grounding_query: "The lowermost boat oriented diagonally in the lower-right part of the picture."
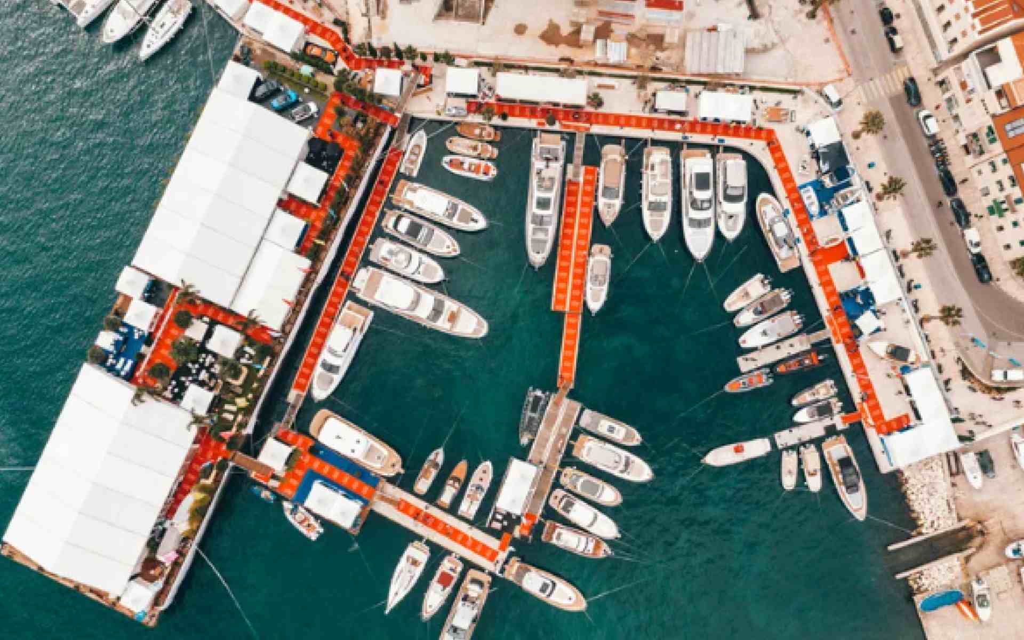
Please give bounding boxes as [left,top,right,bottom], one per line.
[955,599,976,621]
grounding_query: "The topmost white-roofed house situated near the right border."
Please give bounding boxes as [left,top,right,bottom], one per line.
[964,36,1024,94]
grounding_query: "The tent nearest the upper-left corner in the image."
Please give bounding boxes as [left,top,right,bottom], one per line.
[201,0,250,35]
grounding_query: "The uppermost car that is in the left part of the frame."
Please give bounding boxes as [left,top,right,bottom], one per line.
[304,42,337,65]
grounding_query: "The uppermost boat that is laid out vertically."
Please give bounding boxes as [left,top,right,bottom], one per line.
[402,130,427,179]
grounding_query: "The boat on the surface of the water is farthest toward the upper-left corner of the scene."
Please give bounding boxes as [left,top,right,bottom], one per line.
[77,0,116,27]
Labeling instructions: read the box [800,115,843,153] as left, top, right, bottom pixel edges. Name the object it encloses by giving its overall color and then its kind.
white tent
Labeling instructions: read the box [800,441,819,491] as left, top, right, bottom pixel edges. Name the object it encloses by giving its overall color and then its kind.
white boat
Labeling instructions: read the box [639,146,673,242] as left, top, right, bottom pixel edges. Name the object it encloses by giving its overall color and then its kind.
white boat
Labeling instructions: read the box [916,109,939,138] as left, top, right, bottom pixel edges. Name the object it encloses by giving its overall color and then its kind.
white car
